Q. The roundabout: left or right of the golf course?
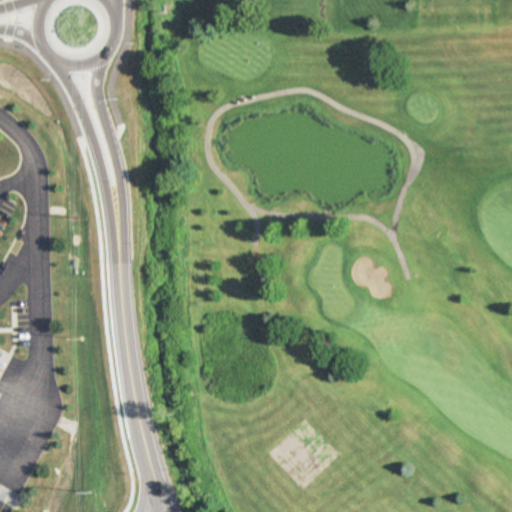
to the left of it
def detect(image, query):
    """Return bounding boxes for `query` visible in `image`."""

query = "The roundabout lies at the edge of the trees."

[0,0,123,187]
